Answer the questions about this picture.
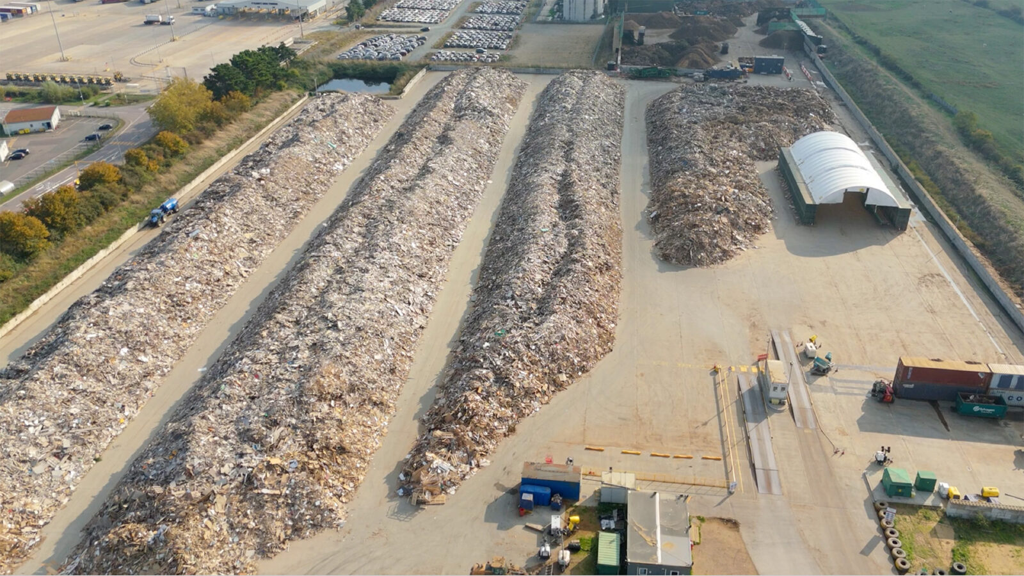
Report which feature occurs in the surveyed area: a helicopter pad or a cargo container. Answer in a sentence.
The image shows a cargo container.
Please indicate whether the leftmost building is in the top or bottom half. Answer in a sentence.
The leftmost building sits in the top half of the picture.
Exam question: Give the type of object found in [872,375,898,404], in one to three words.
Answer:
work vehicle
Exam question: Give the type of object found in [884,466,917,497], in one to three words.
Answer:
shed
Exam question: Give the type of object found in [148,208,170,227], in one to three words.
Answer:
work vehicle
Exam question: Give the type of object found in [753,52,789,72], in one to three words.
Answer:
building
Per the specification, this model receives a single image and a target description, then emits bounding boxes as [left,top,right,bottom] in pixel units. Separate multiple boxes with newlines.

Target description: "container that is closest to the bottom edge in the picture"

[521,462,581,499]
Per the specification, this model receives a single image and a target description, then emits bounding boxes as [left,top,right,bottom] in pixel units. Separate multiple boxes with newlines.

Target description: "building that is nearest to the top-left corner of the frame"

[0,103,56,135]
